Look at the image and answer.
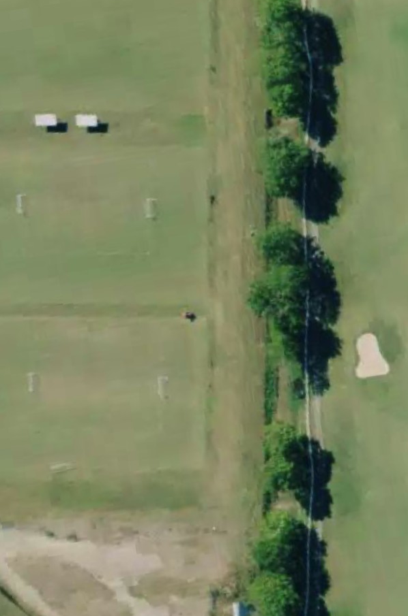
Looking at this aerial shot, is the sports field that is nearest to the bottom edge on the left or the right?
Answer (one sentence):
You can find the sports field that is nearest to the bottom edge on the left side of the picture.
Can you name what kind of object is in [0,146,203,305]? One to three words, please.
sports field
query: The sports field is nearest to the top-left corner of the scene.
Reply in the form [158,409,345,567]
[0,0,206,116]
